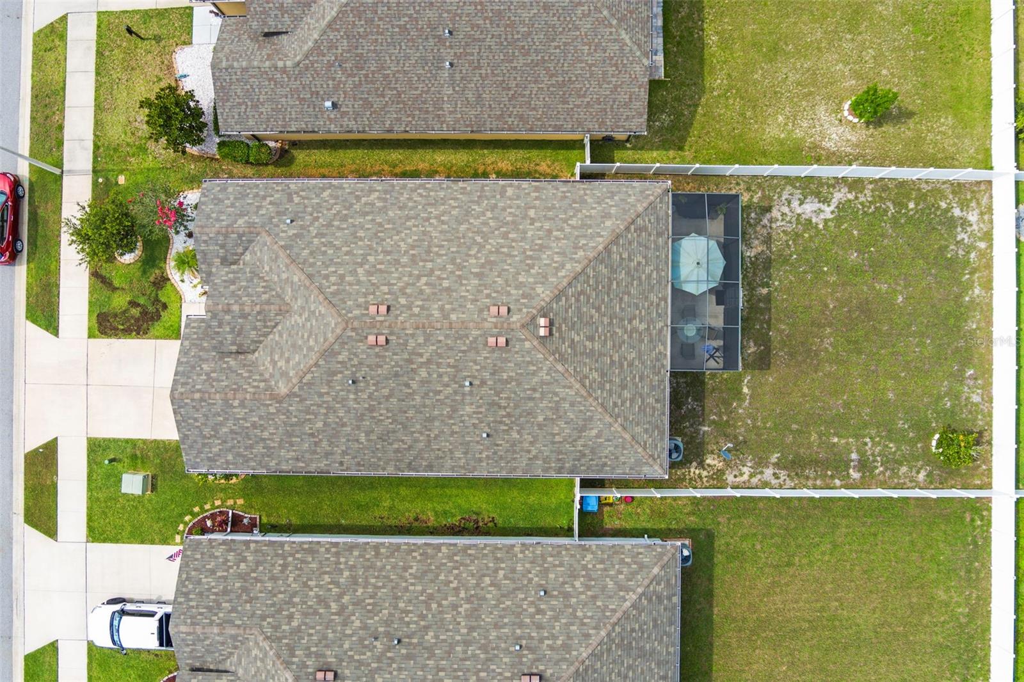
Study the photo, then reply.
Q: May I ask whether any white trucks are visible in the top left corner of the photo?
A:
No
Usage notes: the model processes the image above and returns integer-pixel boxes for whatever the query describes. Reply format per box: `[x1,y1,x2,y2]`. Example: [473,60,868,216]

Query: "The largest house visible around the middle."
[171,180,669,475]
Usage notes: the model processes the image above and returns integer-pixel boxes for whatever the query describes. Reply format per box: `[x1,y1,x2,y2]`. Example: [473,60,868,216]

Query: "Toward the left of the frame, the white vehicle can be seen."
[87,595,176,656]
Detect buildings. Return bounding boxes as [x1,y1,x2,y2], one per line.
[171,510,681,682]
[171,180,669,475]
[188,0,652,140]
